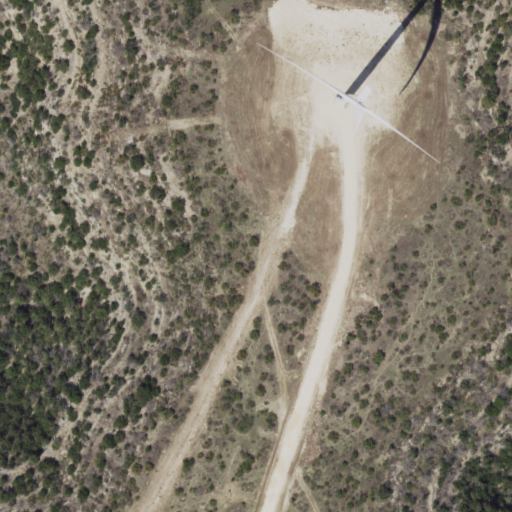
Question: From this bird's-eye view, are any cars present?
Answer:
No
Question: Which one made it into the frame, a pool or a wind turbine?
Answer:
wind turbine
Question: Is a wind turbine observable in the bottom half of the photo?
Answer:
No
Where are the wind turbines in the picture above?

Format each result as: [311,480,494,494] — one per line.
[255,41,442,164]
